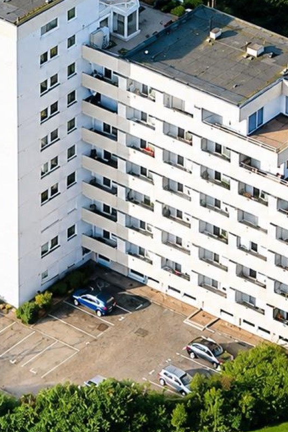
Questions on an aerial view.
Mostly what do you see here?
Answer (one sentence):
What you mostly see from above here is buildings.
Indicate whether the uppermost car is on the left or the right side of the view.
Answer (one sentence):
The uppermost car appears in the left half of the scene.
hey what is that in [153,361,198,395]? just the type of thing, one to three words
car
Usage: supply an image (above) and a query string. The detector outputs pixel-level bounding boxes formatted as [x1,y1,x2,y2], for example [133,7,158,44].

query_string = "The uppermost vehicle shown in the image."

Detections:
[75,288,120,316]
